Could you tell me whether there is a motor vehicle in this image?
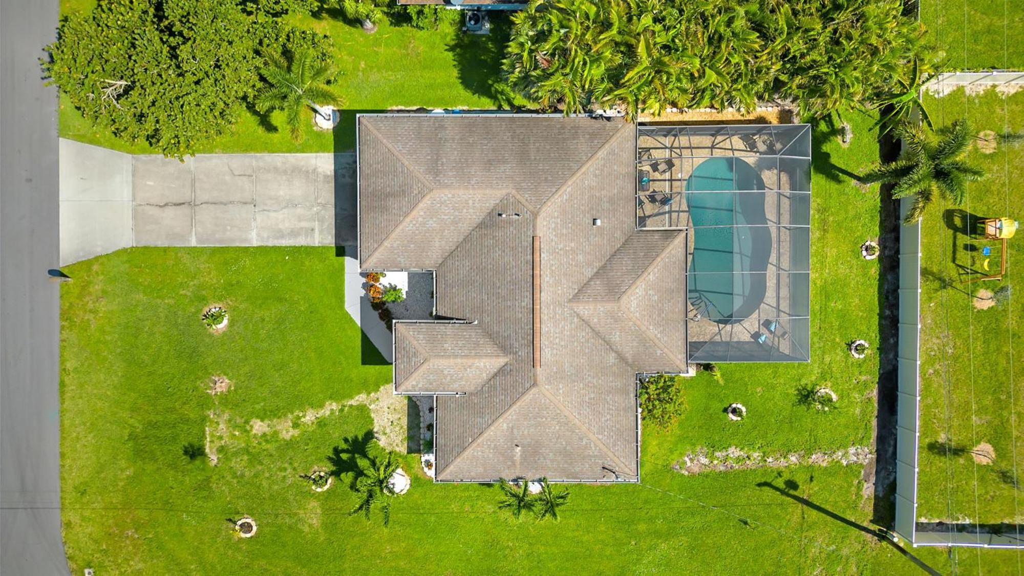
No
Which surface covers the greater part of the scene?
grass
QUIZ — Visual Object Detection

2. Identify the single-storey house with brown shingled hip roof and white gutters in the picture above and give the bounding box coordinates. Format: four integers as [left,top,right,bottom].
[355,111,688,484]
